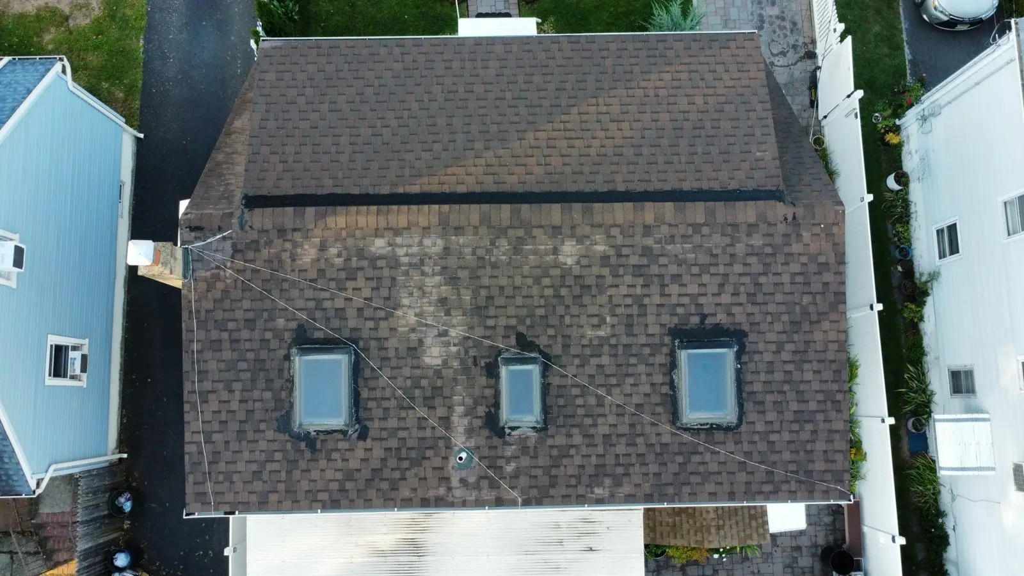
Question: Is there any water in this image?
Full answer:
No, there is no water in the image.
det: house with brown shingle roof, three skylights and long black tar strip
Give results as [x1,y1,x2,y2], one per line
[127,27,853,520]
